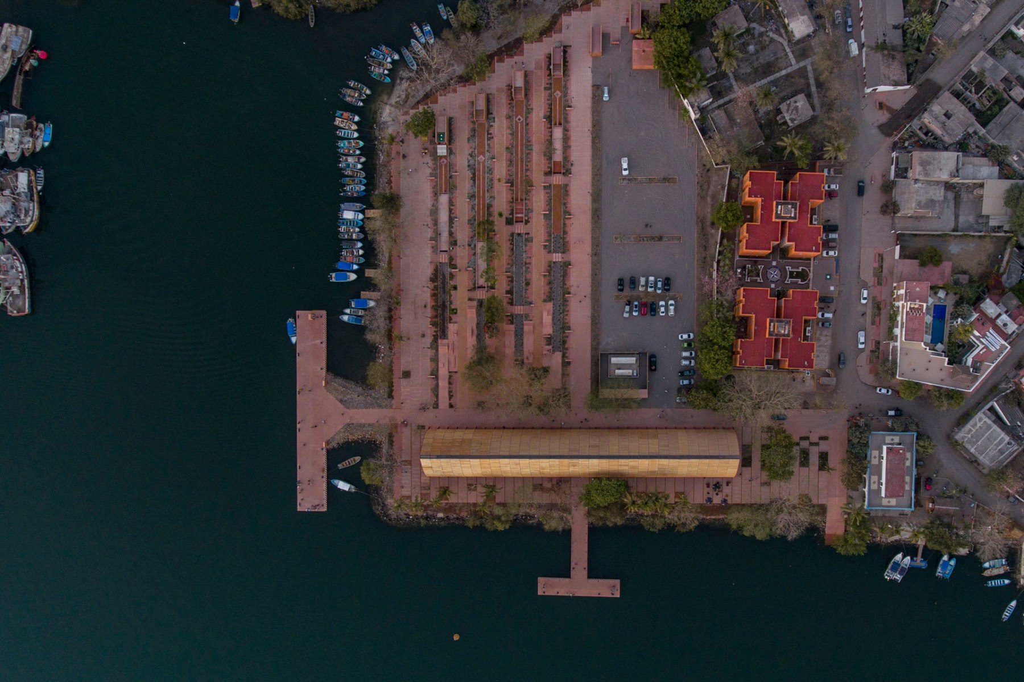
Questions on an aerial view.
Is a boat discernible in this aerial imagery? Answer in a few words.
Yes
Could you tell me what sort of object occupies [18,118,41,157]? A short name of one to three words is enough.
boat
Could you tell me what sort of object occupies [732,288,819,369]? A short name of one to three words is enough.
building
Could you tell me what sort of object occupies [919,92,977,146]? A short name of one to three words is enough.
house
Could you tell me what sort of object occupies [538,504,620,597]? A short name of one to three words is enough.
pier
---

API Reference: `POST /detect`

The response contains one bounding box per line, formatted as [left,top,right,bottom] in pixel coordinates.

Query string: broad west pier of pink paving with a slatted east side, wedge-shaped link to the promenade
[297,311,392,511]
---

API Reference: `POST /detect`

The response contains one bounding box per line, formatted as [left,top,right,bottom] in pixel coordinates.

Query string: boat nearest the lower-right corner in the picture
[1000,601,1017,623]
